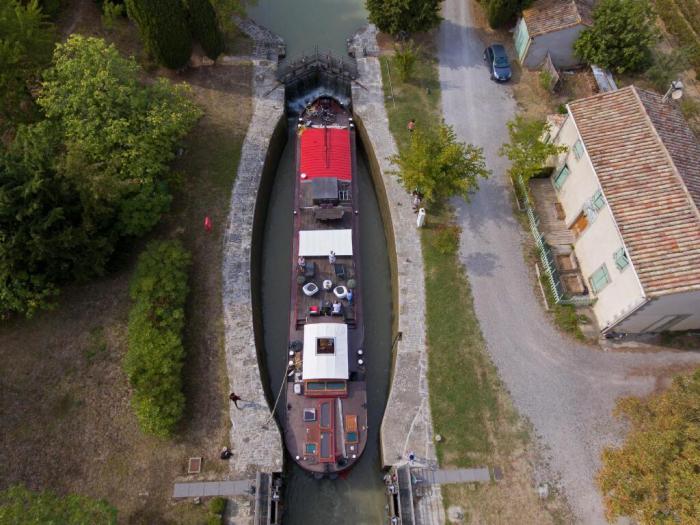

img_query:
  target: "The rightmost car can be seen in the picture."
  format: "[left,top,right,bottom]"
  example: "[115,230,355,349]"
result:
[486,39,515,80]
